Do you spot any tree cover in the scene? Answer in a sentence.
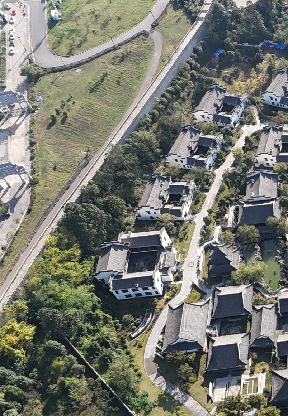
Yes, tree cover can be seen from above here.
